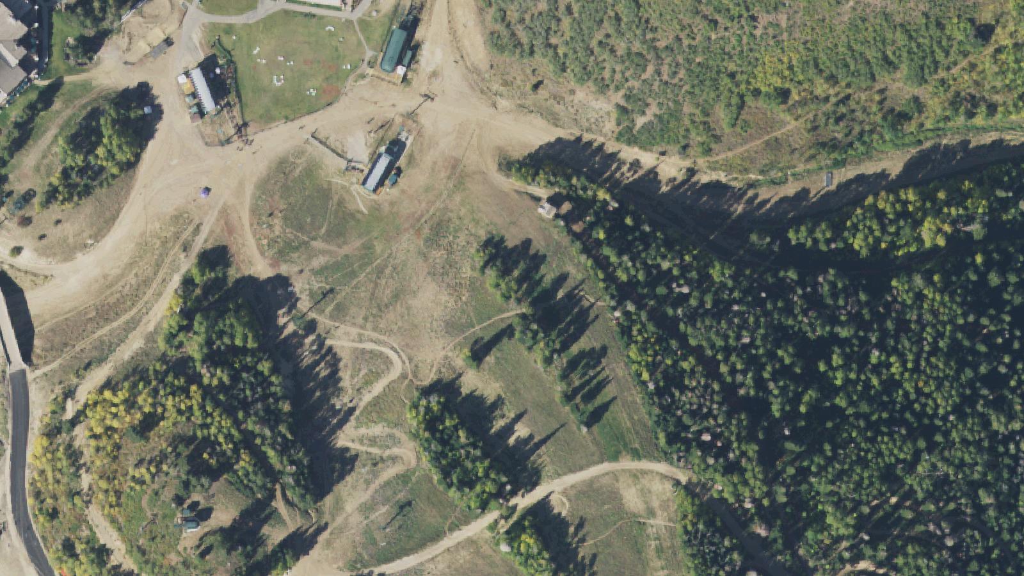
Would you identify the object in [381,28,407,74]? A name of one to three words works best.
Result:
building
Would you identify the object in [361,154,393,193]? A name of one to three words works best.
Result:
building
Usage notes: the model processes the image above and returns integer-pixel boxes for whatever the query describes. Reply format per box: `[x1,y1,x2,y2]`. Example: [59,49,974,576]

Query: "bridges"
[0,291,31,370]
